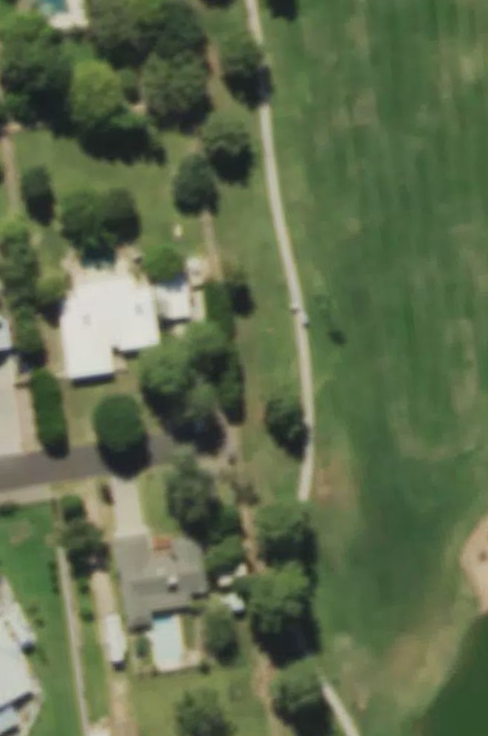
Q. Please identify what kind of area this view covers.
golf course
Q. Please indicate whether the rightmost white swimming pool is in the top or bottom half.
bottom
